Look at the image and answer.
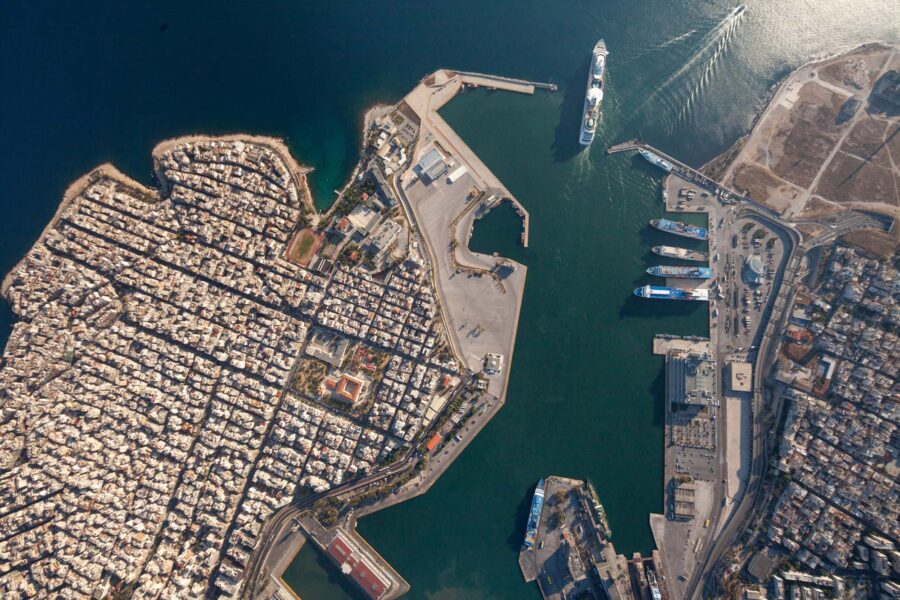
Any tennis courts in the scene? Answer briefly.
No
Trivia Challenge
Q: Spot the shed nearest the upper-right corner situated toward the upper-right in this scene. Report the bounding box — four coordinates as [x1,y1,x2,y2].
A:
[835,96,861,123]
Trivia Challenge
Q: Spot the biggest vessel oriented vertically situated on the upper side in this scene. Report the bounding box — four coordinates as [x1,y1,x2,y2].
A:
[577,41,607,148]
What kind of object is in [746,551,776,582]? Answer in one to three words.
building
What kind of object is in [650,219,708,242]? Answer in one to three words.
ship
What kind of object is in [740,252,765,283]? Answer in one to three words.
building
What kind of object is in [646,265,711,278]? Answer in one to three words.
ship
